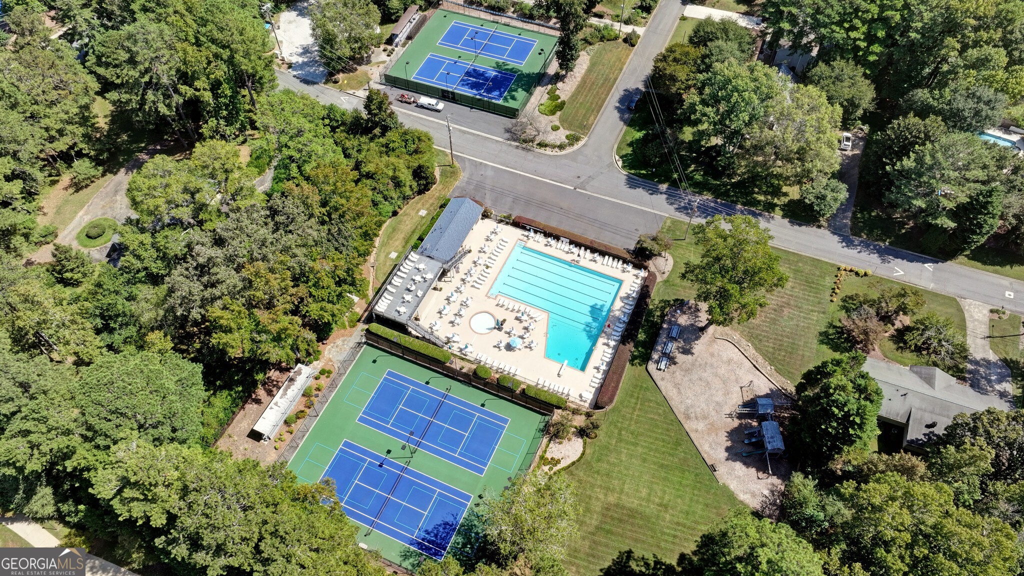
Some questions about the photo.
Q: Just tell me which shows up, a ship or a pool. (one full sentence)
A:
Looking from above, you can make out a pool.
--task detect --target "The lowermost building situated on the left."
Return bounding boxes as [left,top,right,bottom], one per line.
[253,363,316,443]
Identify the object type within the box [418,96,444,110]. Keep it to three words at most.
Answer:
vehicle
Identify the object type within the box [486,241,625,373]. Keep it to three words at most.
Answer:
swimming pool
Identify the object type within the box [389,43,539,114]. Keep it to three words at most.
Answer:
tennis court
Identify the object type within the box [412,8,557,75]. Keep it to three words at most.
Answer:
tennis court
